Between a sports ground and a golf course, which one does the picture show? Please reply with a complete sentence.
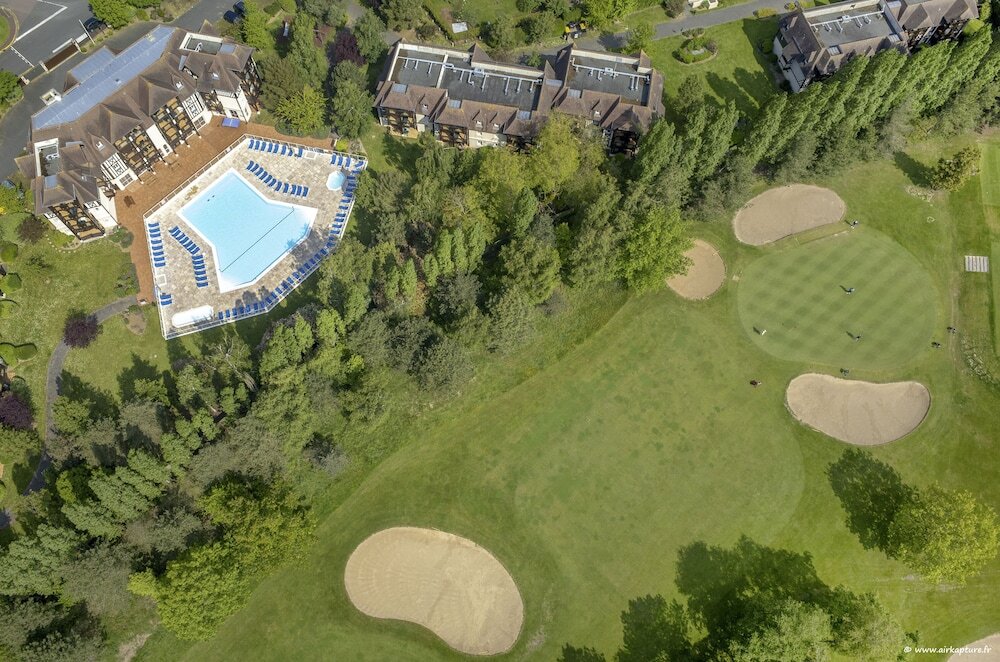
This looks like a golf course.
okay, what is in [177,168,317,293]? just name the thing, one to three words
swimming pool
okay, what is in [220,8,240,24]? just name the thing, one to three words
car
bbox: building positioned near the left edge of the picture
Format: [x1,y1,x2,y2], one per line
[14,18,268,240]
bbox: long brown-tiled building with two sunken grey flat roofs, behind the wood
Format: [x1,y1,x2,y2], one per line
[374,39,665,157]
